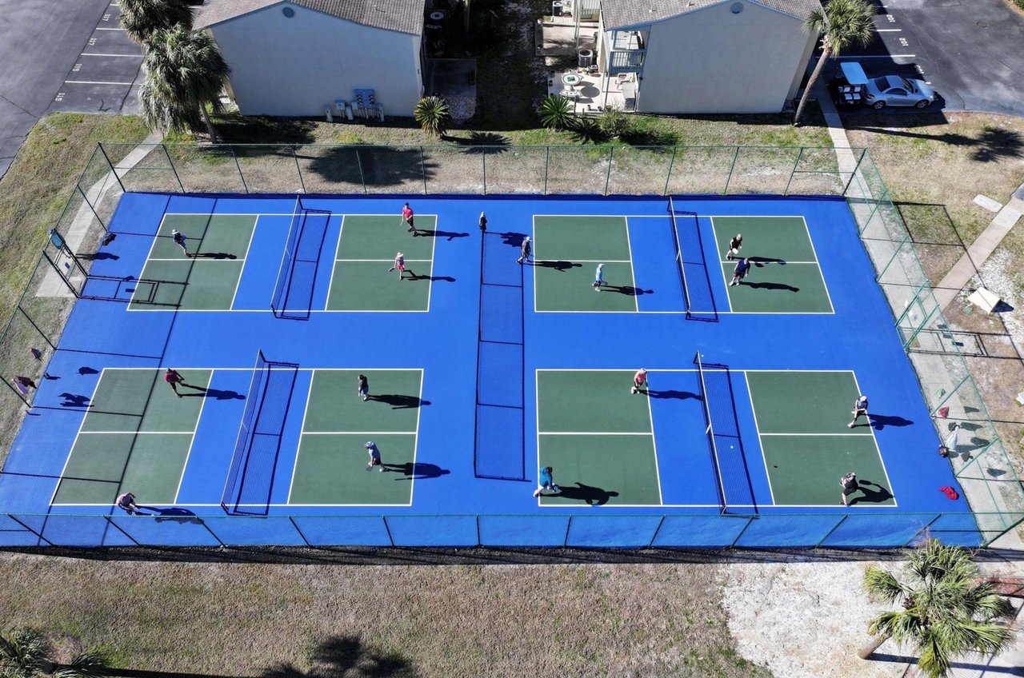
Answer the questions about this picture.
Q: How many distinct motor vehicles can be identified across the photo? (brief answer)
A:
2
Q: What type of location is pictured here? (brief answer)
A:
sports ground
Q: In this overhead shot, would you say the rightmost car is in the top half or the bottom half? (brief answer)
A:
top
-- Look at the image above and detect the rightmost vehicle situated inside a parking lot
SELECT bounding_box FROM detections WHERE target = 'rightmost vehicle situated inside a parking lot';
[860,72,938,107]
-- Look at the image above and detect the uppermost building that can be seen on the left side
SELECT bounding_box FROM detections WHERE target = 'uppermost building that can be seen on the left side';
[192,0,434,114]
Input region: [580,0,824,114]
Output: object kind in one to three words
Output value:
building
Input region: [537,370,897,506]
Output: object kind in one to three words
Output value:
sports court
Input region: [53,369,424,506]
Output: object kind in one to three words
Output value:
sports court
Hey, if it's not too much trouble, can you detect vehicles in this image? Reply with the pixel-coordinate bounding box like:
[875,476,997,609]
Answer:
[828,62,871,112]
[860,72,938,107]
